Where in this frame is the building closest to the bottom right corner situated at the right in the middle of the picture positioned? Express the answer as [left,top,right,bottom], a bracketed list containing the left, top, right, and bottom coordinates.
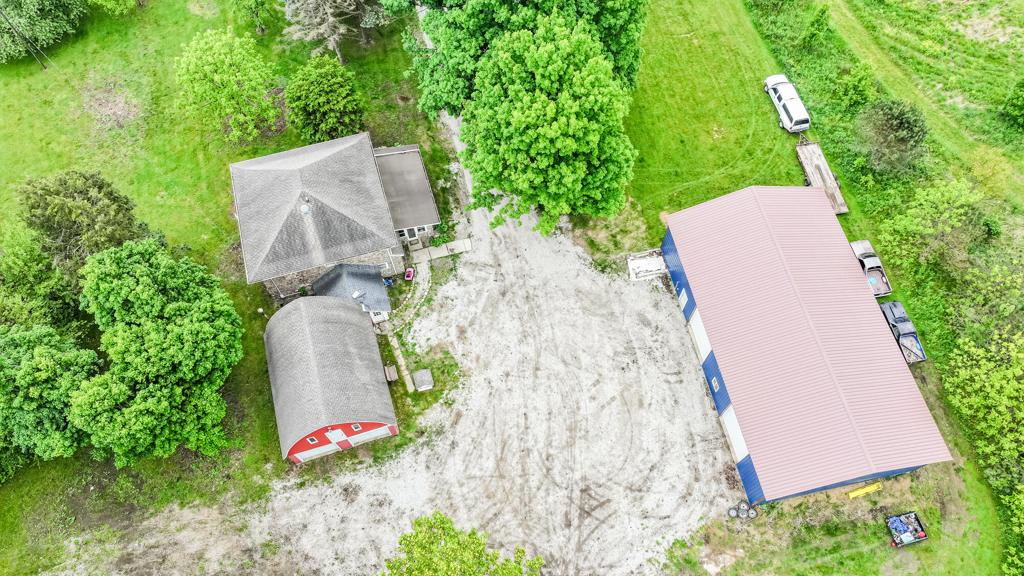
[661,186,952,505]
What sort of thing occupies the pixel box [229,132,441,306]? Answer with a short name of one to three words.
house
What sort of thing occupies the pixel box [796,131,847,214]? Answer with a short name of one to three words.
trailer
